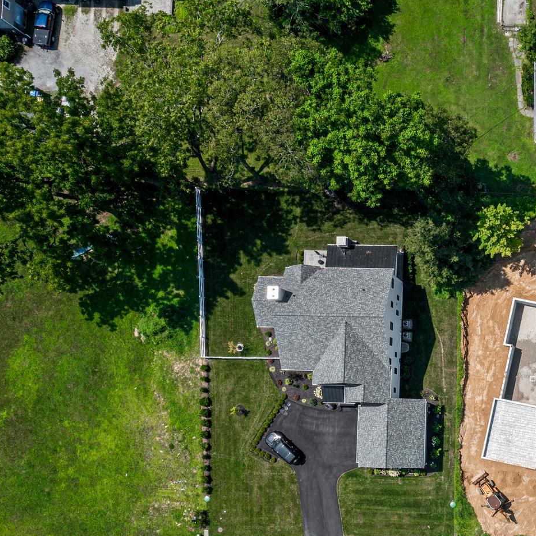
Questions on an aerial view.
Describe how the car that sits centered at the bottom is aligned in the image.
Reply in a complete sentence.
The car that sits centered at the bottom is laid out diagonally.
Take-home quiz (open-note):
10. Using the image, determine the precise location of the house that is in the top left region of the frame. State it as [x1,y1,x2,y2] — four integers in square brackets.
[0,0,38,37]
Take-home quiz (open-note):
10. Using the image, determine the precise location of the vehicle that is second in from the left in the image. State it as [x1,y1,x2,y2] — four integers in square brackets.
[265,430,305,467]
